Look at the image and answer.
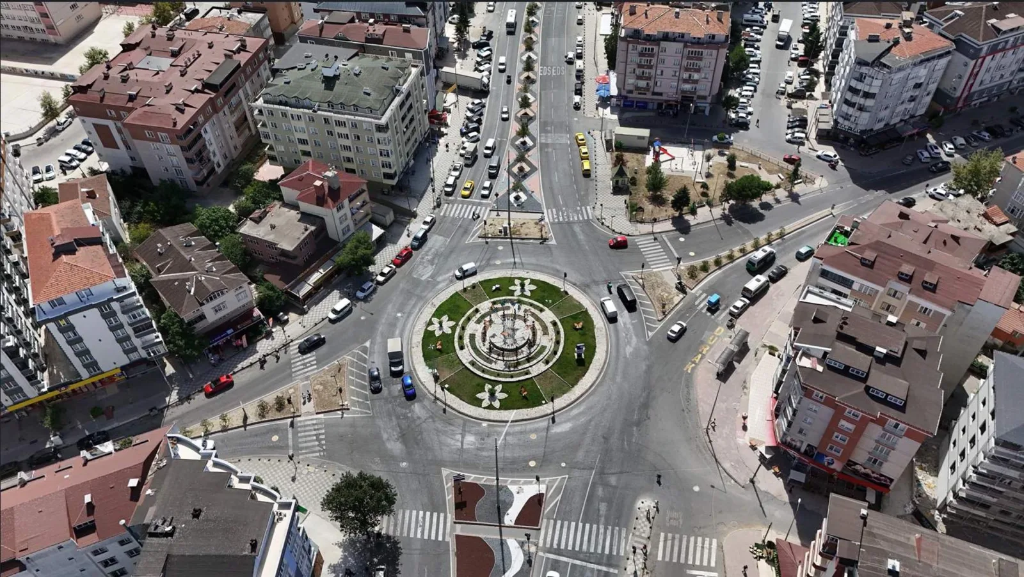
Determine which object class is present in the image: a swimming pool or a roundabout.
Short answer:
roundabout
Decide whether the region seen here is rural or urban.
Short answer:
urban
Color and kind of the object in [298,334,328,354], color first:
black car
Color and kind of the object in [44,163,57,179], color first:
white vehicle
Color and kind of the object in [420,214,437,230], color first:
white car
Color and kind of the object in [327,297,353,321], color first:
white vehicle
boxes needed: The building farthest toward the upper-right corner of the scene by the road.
[923,0,1024,112]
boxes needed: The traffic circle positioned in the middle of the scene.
[412,270,606,419]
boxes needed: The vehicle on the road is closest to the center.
[454,260,479,280]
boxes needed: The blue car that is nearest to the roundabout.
[401,374,416,400]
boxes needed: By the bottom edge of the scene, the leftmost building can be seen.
[0,425,174,577]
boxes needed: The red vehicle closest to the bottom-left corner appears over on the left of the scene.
[203,375,235,396]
